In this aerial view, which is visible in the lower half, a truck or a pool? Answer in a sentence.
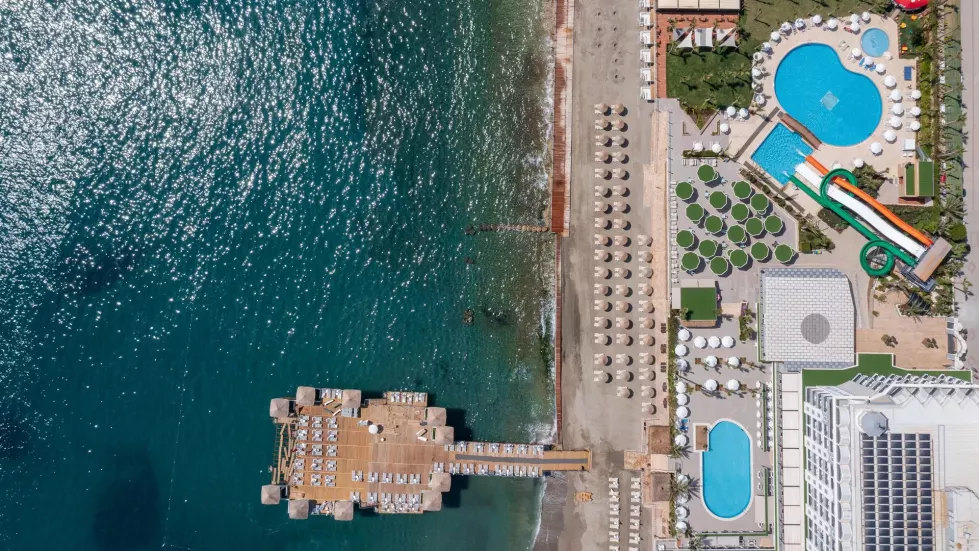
What appears in the lower half is a pool.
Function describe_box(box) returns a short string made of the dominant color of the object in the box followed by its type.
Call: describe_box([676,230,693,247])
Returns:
green umbrella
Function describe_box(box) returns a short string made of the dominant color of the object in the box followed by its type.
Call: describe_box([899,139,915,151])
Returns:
white gazebo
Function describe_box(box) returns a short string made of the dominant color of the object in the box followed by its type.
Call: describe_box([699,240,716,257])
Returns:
green umbrella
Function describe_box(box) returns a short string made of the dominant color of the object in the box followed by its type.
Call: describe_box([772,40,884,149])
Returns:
blue swimming pool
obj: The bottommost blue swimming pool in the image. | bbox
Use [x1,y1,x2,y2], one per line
[700,417,754,521]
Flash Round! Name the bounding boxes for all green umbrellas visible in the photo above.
[698,165,715,182]
[728,226,745,243]
[706,215,723,232]
[710,256,728,275]
[751,242,769,259]
[731,203,749,220]
[729,250,747,267]
[686,204,704,221]
[733,181,751,198]
[675,182,692,199]
[676,230,693,247]
[699,240,716,257]
[709,191,727,209]
[751,193,768,210]
[774,244,793,262]
[746,218,763,235]
[764,215,782,232]
[682,252,699,269]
